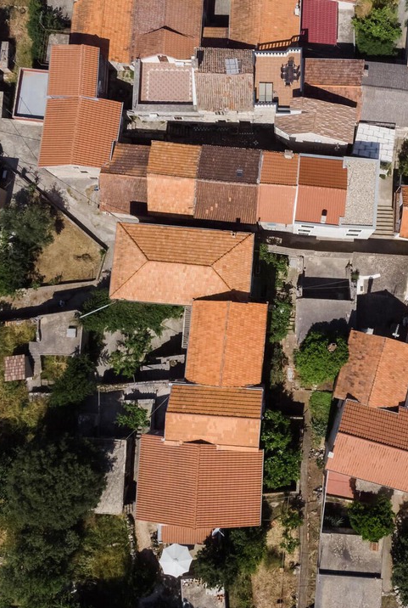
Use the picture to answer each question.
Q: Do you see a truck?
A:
No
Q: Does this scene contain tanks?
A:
No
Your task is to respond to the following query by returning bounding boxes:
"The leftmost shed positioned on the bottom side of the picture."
[4,354,32,382]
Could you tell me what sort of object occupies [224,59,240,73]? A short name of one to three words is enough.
solar panel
